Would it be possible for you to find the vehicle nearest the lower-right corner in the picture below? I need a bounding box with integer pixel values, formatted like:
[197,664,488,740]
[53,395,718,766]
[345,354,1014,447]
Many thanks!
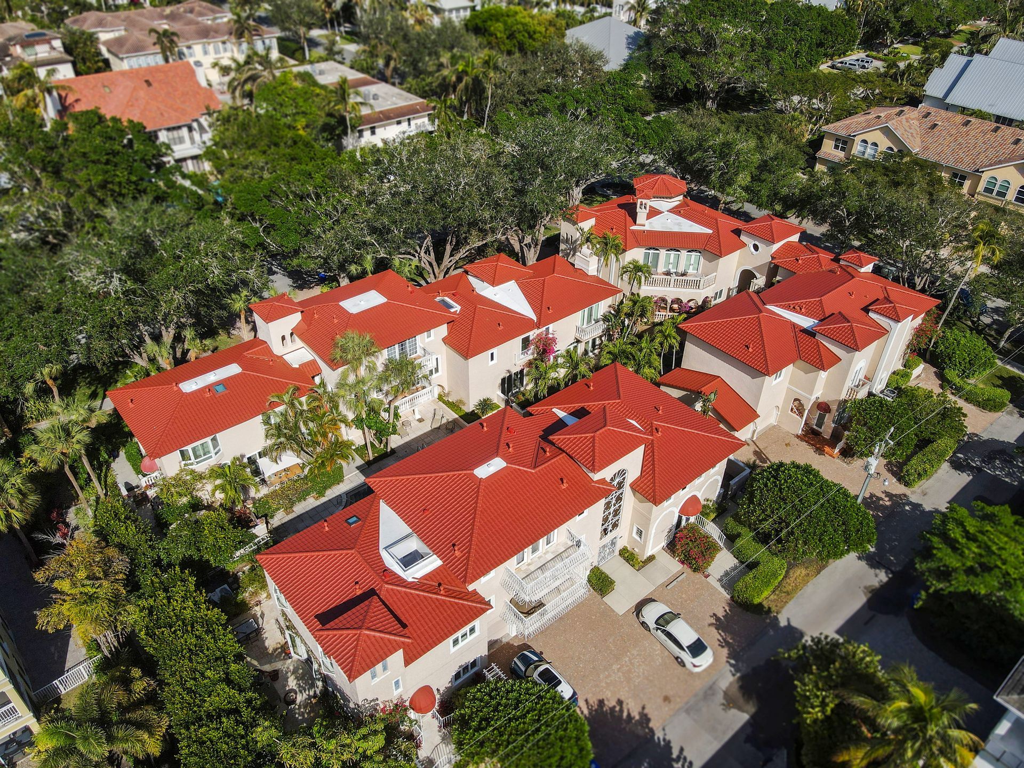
[636,598,719,672]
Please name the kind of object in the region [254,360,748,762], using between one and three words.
house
